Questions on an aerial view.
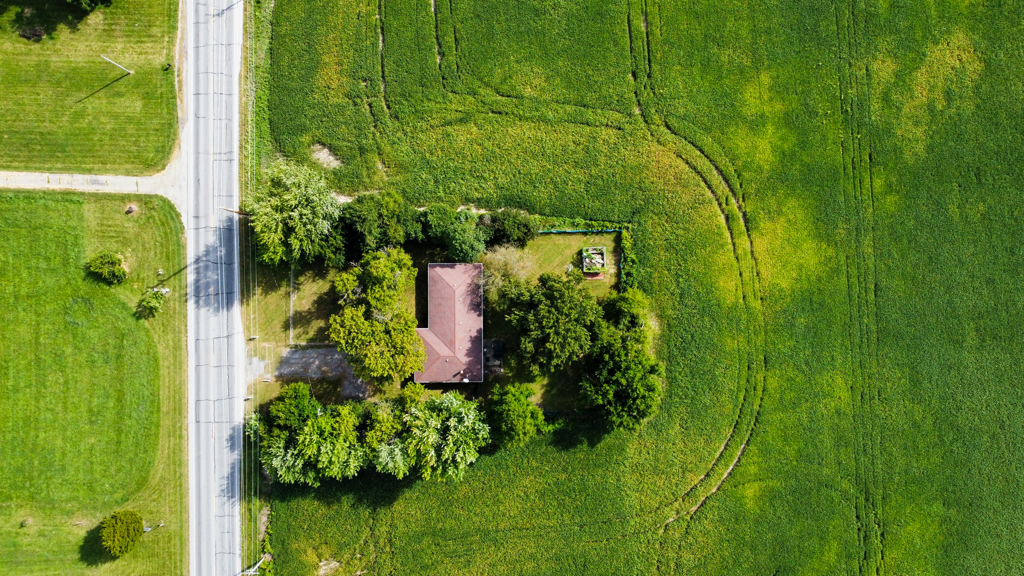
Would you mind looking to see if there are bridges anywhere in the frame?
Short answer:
No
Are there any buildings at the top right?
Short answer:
No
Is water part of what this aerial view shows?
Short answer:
No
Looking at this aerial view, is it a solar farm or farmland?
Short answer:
farmland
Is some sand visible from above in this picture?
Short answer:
No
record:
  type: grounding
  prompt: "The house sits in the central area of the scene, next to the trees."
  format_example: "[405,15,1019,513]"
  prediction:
[414,263,483,383]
